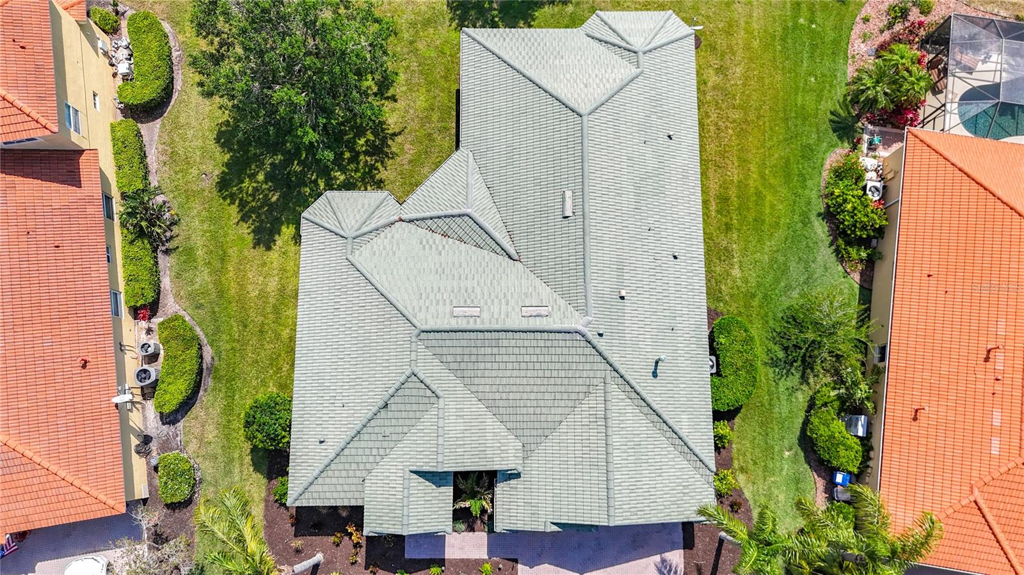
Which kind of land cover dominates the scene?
buildings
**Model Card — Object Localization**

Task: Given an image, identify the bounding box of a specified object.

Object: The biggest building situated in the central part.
[284,7,717,539]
